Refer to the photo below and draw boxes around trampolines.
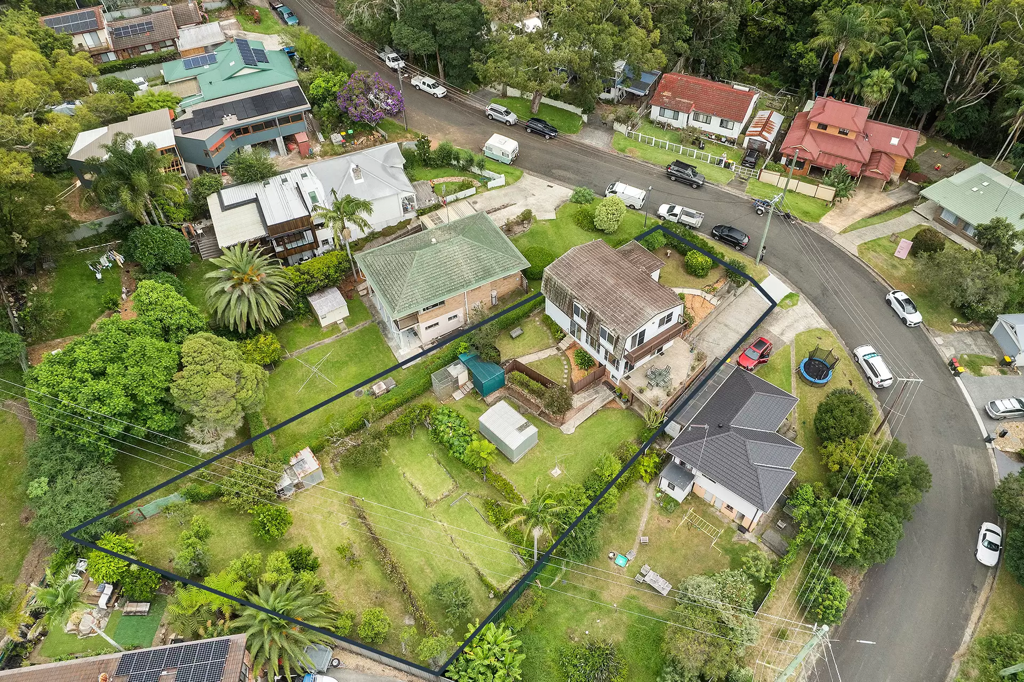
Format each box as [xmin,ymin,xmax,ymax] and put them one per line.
[794,348,837,388]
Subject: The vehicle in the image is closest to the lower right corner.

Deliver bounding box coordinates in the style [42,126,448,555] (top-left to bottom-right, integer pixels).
[971,516,1007,572]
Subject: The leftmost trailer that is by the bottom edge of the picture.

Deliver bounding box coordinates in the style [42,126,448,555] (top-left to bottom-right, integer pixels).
[298,644,352,677]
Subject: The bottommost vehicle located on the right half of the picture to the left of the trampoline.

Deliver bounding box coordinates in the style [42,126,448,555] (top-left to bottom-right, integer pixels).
[738,334,775,375]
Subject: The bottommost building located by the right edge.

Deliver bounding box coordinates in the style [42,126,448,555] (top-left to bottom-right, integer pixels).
[990,305,1024,361]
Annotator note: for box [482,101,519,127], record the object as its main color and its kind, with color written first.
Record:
gray car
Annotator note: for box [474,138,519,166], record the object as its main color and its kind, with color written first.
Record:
white camper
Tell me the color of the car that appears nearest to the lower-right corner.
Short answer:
white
